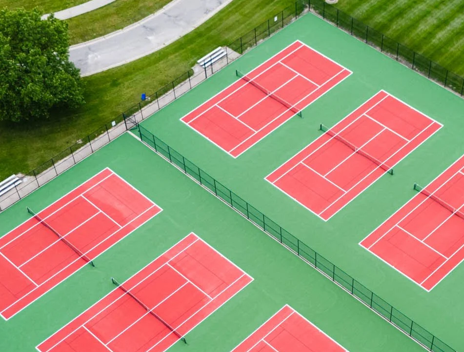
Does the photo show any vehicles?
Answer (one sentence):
No, the picture doesn't show any vehicle.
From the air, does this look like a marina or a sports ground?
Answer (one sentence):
This looks like a sports ground.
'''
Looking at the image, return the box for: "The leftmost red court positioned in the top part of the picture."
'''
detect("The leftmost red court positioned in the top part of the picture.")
[179,40,353,158]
